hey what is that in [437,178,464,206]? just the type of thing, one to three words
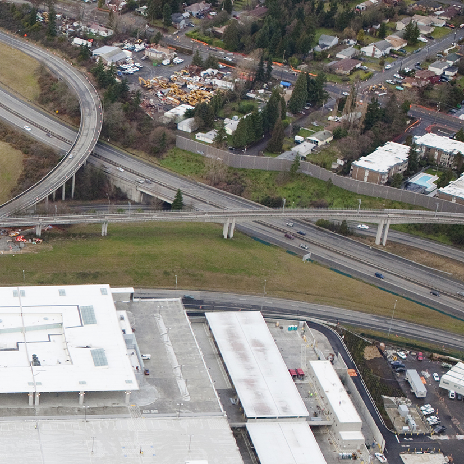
building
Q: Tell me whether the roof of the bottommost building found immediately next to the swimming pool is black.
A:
No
